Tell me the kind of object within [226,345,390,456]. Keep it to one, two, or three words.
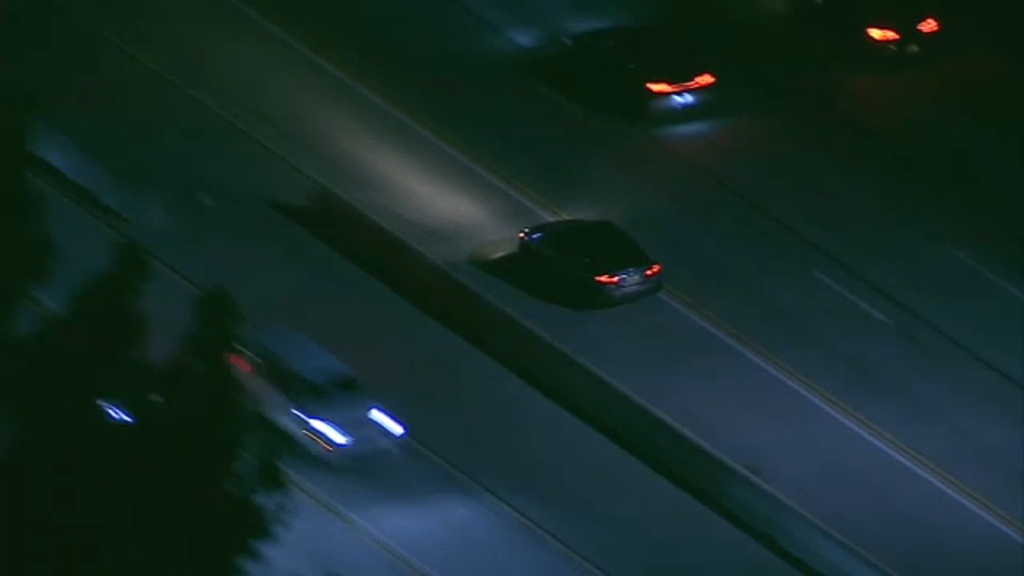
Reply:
car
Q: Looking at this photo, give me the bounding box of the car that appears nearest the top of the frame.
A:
[783,0,946,67]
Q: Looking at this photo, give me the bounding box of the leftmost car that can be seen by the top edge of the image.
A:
[558,22,719,119]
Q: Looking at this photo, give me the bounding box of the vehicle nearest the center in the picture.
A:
[501,218,665,313]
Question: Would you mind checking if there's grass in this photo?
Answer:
No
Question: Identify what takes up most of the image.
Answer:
paved ground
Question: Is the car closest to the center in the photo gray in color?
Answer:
No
